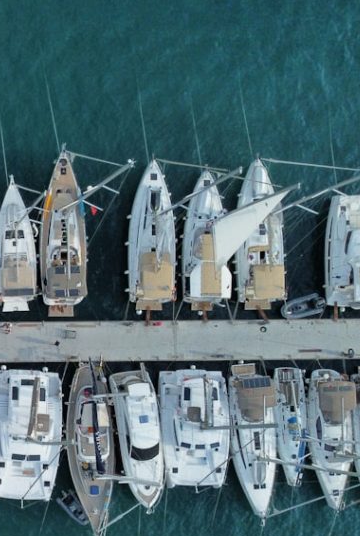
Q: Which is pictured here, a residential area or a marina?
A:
marina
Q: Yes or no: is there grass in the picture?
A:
No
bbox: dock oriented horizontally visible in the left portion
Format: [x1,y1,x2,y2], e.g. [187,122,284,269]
[0,319,178,363]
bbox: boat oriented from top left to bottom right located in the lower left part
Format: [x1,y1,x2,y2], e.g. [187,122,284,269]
[58,490,89,524]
